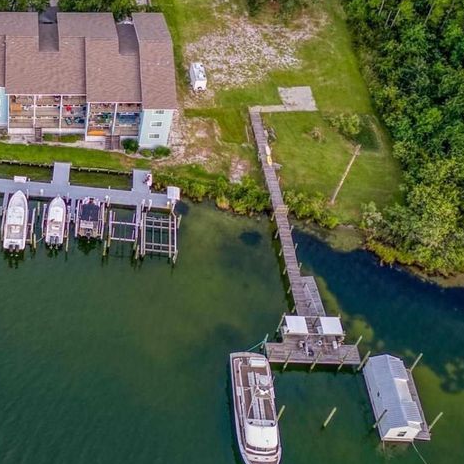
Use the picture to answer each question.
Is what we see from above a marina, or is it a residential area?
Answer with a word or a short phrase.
marina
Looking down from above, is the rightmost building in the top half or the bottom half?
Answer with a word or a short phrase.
bottom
